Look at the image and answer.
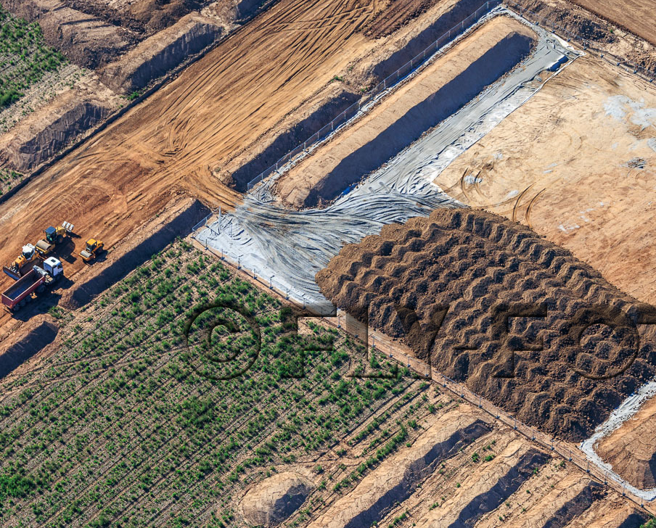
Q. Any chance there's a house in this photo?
No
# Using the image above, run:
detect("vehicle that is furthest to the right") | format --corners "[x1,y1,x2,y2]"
[76,238,102,261]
